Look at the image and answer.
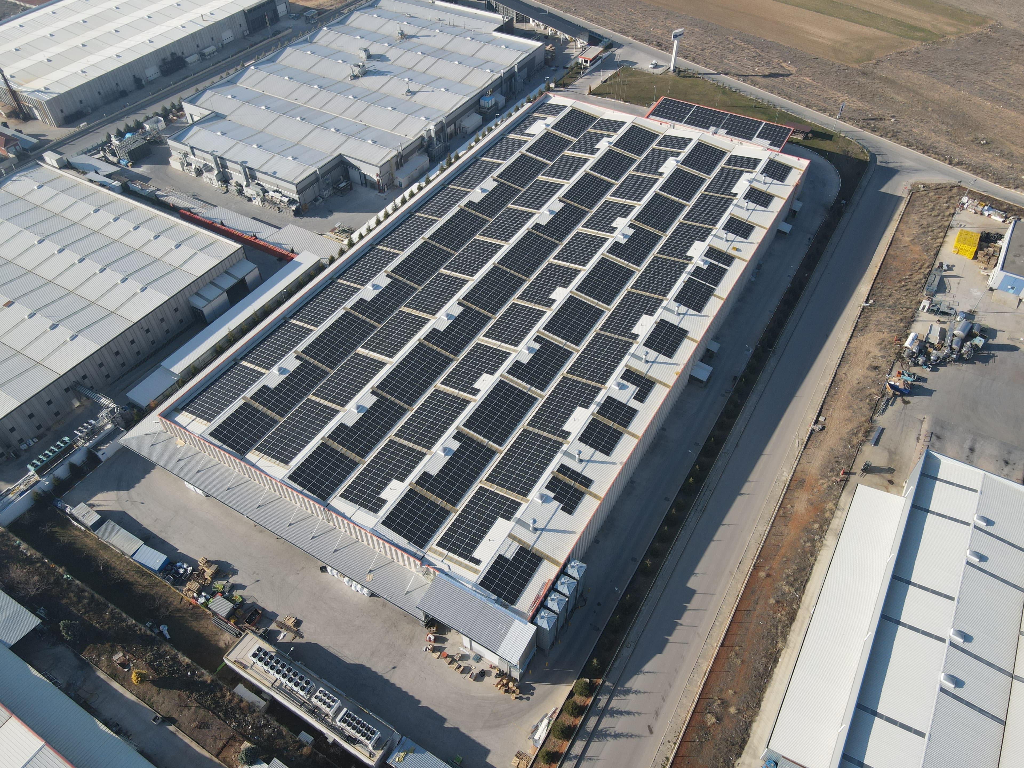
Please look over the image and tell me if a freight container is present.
Yes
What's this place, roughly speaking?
industrial area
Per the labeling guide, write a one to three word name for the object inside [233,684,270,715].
shed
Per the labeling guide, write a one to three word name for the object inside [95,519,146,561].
shipping container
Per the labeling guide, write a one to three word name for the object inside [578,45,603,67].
building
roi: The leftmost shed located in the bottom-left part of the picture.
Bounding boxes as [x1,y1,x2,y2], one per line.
[0,588,55,662]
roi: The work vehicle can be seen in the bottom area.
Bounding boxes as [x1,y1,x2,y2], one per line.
[858,458,875,476]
